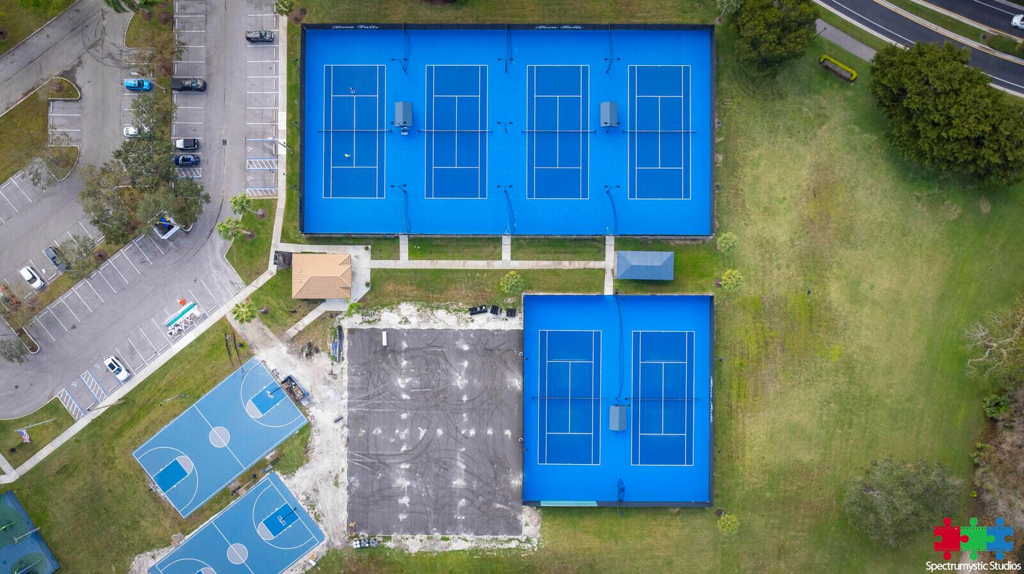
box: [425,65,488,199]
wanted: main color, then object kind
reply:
blue tennis court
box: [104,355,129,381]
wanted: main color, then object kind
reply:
white car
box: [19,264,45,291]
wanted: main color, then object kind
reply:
white car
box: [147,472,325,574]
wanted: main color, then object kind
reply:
blue basketball court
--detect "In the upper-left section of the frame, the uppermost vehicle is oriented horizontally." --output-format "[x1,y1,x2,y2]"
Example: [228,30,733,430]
[245,29,275,43]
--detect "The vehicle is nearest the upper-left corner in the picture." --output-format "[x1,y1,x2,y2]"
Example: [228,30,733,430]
[125,78,153,91]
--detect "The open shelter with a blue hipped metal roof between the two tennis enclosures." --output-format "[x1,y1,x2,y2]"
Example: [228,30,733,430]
[617,251,674,280]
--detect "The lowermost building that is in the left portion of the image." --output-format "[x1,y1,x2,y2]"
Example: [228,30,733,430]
[292,254,351,299]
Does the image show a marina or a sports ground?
sports ground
